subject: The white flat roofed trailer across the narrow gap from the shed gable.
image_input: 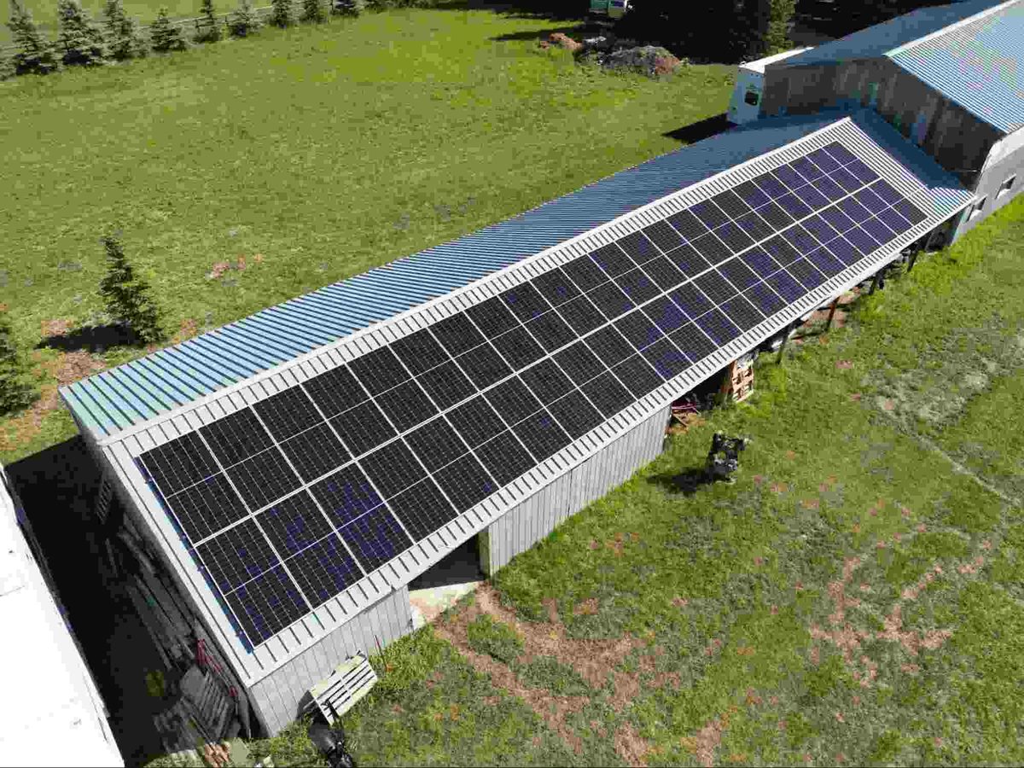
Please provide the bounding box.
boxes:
[0,483,130,768]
